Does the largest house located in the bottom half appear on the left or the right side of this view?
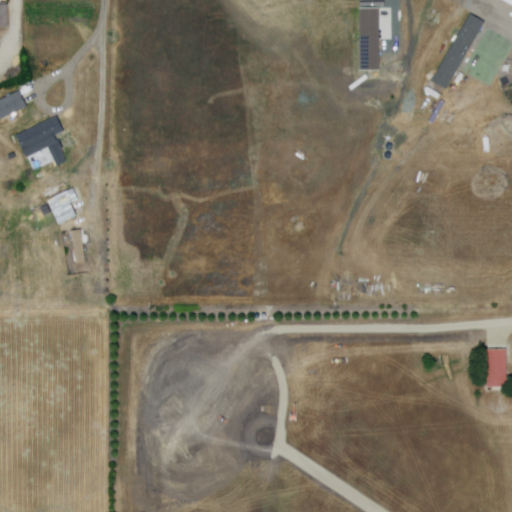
right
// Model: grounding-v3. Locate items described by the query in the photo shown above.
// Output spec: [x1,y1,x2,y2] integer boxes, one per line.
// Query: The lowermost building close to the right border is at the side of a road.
[488,350,508,387]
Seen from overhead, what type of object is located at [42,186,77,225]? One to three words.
house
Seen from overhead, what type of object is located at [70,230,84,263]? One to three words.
house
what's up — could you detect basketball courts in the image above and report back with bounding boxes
[467,30,511,84]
